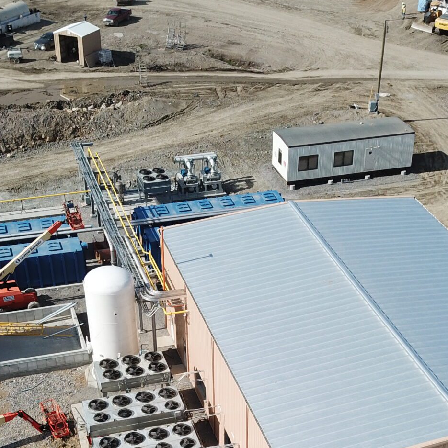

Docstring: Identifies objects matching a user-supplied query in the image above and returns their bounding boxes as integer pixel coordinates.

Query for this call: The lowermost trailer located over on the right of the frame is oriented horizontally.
[277,120,416,183]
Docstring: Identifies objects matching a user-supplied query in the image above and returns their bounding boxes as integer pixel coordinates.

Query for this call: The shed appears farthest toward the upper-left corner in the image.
[52,17,104,66]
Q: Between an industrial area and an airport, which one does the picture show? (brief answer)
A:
industrial area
